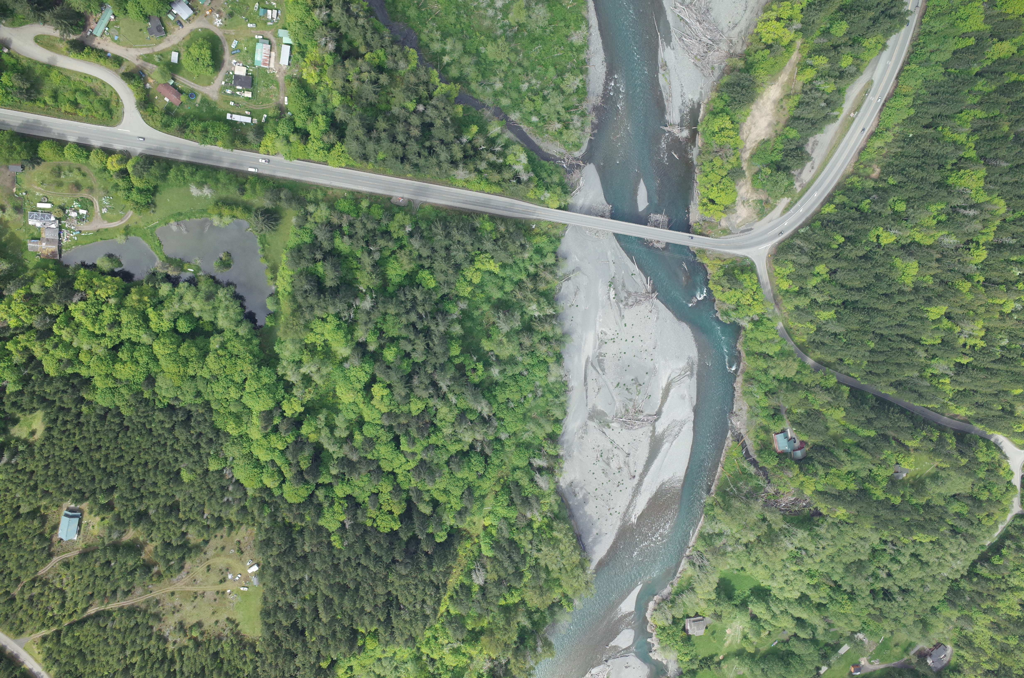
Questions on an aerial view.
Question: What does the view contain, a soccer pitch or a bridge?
bridge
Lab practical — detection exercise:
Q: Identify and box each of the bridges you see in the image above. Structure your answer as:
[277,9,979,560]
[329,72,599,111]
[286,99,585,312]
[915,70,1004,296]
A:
[564,211,695,248]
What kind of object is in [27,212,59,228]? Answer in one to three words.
house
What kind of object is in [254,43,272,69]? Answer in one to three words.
barn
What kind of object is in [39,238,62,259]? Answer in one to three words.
house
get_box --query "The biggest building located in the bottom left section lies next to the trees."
[59,516,82,538]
